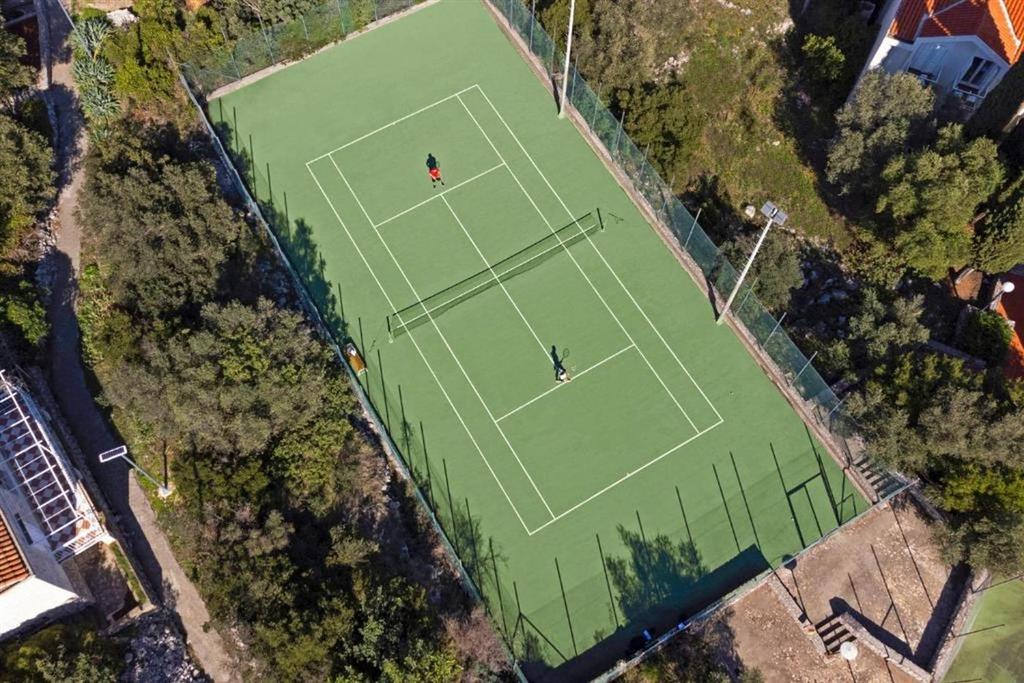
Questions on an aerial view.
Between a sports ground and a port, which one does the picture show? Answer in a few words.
sports ground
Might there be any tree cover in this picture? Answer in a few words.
Yes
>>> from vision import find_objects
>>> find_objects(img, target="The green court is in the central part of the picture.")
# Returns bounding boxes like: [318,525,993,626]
[198,0,870,683]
